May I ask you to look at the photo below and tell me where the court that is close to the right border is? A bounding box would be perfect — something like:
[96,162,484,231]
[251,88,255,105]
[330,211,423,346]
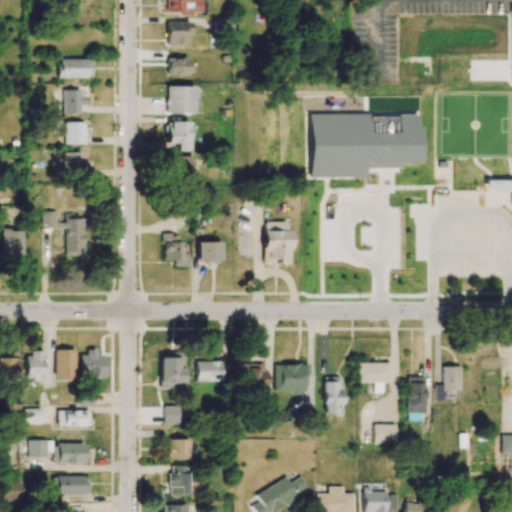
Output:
[468,60,512,82]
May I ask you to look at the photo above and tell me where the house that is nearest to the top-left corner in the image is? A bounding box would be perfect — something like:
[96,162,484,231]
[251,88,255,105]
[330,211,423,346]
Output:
[60,58,96,79]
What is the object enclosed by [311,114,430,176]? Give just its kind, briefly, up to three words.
building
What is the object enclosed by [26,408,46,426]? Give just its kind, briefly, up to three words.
building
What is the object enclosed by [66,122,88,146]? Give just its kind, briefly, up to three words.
house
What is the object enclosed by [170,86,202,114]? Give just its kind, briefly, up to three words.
house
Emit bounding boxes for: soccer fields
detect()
[438,91,512,158]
